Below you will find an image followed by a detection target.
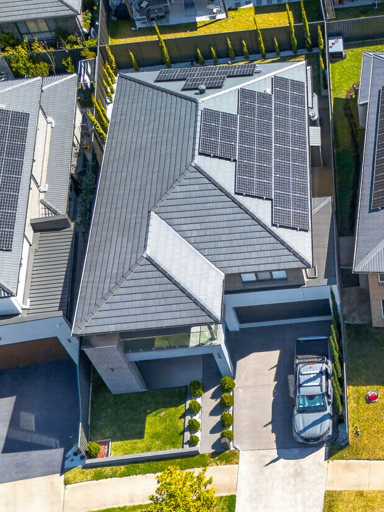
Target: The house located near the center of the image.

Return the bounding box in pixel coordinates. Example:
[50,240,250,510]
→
[69,60,340,394]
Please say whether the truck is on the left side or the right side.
right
